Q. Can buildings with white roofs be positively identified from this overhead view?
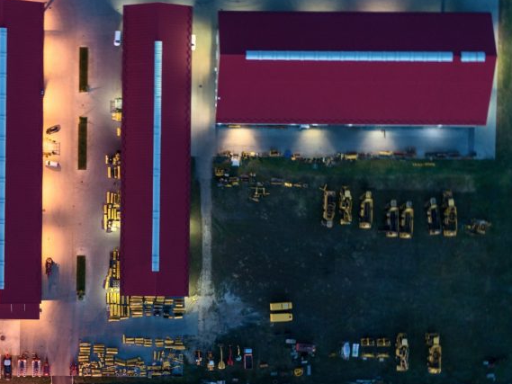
No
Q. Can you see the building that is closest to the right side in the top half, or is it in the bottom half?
top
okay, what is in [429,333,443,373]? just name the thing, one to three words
work vehicle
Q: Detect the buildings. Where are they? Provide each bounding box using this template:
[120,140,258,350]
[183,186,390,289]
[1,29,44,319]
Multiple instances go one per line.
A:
[0,0,44,320]
[120,1,192,296]
[215,11,500,128]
